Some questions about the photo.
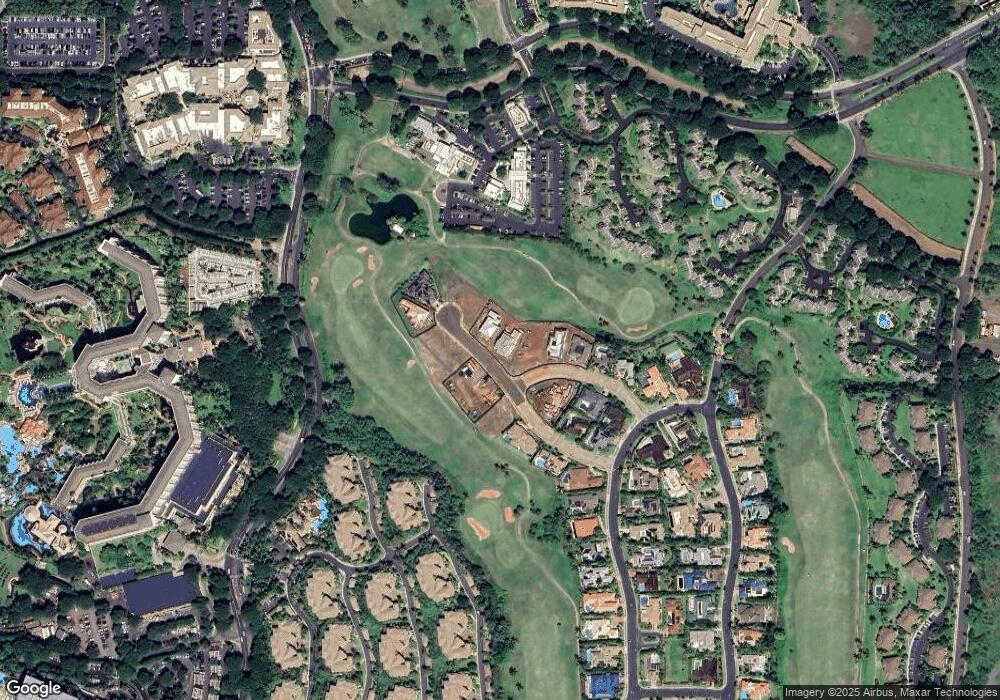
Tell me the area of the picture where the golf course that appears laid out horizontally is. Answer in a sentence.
The golf course that appears laid out horizontally appears toward the top of the photo.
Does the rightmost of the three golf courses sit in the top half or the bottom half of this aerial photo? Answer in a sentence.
The rightmost of the three golf courses is in the bottom half of the image.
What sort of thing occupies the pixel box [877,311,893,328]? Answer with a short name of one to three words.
swimming pool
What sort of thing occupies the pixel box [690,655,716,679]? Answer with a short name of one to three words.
house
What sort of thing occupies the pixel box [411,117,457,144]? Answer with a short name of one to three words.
building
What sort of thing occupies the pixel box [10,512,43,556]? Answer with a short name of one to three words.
swimming pool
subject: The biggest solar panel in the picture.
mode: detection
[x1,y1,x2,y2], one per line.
[171,441,233,512]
